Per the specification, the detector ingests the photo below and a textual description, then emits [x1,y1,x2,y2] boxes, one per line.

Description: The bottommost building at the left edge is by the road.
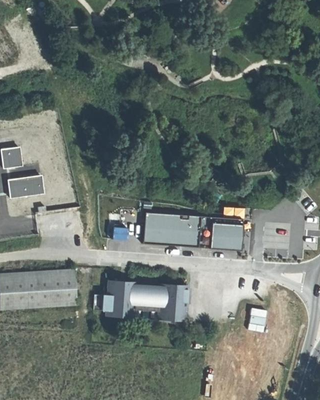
[0,270,78,312]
